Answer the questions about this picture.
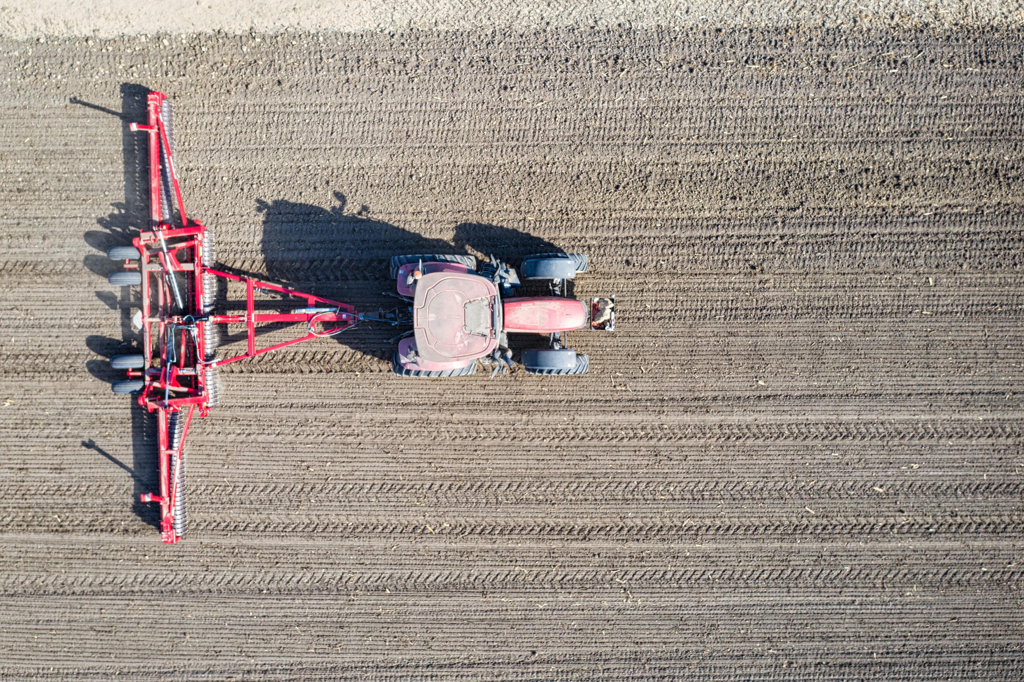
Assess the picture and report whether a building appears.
No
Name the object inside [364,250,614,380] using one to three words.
work vehicle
